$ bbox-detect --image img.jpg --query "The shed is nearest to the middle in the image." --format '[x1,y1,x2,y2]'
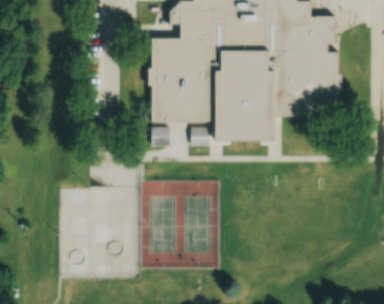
[192,128,210,147]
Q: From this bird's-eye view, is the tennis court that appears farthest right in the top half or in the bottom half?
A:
bottom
